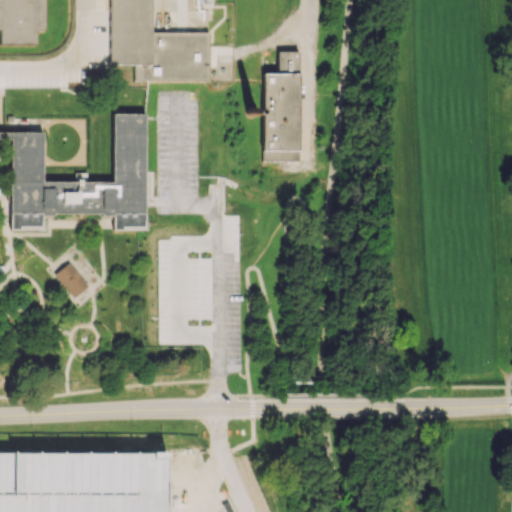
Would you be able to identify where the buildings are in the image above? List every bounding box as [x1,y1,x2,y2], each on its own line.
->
[0,450,172,512]
[0,114,150,231]
[56,262,88,297]
[110,0,210,82]
[263,52,301,163]
[0,0,48,46]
